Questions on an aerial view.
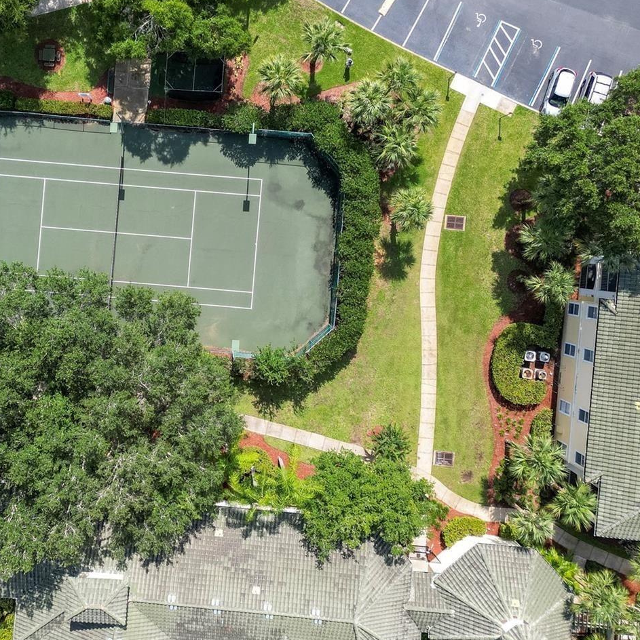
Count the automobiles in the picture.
two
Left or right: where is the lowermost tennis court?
left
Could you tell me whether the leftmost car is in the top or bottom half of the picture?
top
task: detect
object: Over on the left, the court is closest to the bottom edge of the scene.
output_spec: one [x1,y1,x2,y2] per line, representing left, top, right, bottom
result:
[0,117,336,352]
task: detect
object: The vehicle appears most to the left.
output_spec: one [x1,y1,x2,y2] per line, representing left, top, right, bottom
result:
[544,65,585,118]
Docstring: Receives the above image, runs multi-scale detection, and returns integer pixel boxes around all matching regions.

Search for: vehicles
[544,65,585,118]
[580,67,627,121]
